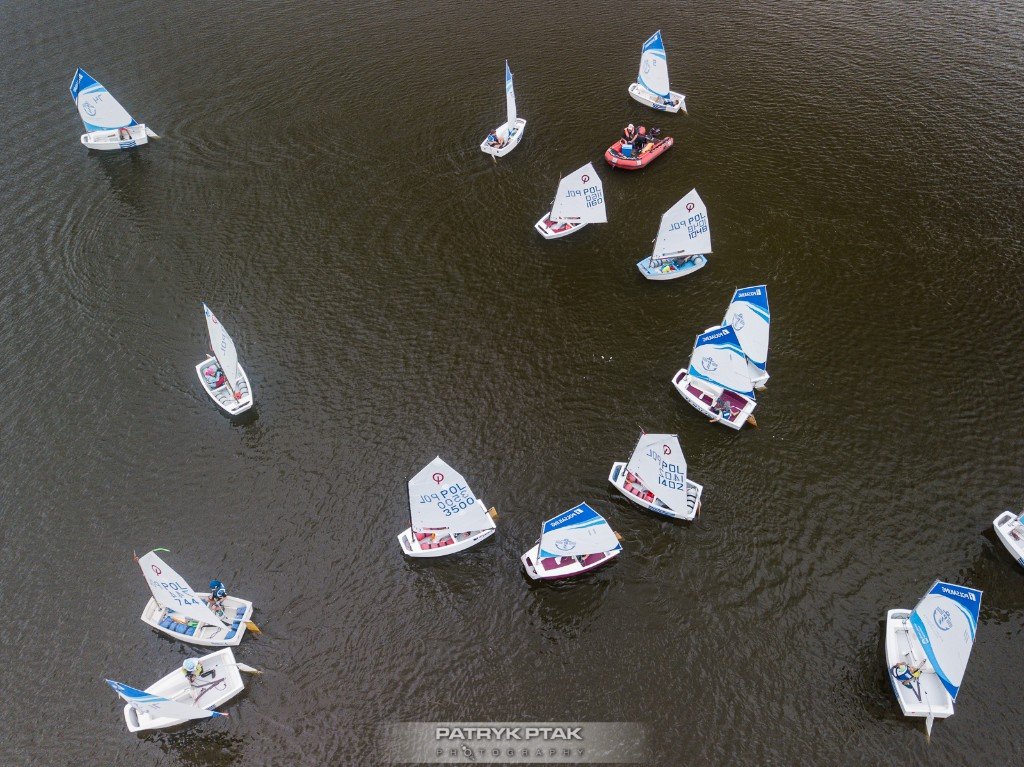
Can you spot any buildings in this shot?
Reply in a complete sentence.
No, I can't see a single building in this photo.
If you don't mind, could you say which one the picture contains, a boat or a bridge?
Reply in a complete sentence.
Visible in the photo is a boat.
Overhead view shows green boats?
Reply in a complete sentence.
No, there's no green boat here.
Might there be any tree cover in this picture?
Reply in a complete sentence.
No, tree cover can't be seen anywhere here.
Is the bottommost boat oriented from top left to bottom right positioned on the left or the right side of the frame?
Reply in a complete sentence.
It is on the left.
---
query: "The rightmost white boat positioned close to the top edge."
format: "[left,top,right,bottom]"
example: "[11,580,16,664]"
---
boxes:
[628,29,689,113]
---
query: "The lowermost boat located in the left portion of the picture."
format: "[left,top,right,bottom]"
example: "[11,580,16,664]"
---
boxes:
[106,648,265,733]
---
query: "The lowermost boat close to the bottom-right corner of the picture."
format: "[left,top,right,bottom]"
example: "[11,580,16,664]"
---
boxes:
[883,573,985,741]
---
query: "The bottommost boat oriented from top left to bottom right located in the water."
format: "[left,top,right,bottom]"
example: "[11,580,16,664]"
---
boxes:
[132,549,266,646]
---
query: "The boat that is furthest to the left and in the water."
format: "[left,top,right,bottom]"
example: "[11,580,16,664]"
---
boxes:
[66,66,159,149]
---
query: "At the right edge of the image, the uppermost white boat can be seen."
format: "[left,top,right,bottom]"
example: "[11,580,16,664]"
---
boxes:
[995,510,1024,566]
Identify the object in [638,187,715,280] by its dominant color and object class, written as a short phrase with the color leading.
white boat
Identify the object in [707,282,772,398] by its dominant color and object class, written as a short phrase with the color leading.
white boat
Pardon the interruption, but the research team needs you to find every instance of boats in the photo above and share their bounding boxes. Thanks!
[521,501,626,581]
[883,573,985,741]
[194,301,252,412]
[995,510,1024,566]
[536,160,609,239]
[605,124,673,171]
[673,324,758,430]
[398,455,504,558]
[481,59,527,162]
[66,66,159,149]
[638,187,715,280]
[132,549,266,646]
[628,29,689,113]
[106,648,265,733]
[608,431,703,519]
[707,282,772,398]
